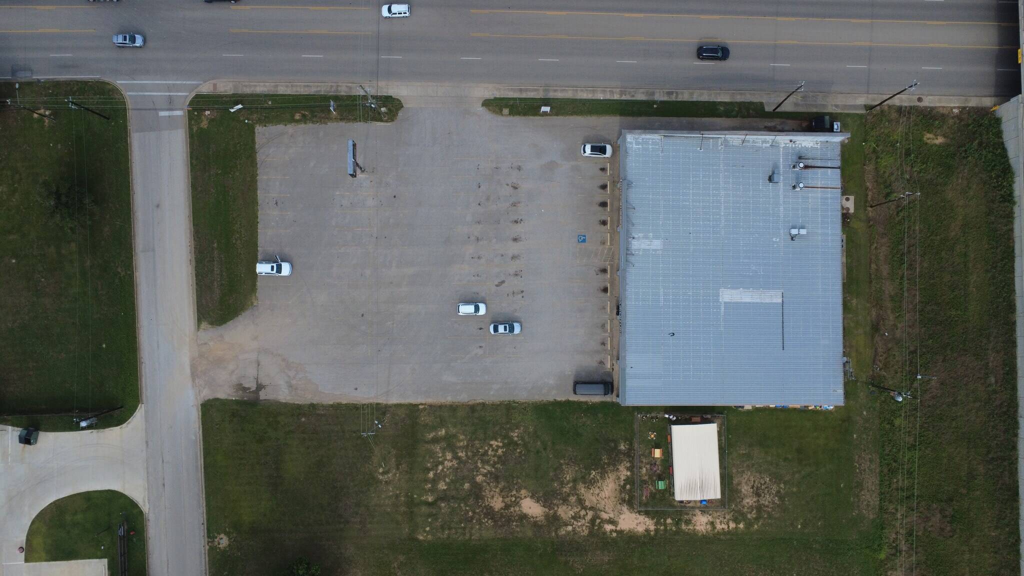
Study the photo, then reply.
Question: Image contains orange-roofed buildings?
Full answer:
No, this view has no orange-roofed building in it.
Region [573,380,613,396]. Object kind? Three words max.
vehicle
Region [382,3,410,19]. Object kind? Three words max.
car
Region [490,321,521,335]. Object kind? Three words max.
car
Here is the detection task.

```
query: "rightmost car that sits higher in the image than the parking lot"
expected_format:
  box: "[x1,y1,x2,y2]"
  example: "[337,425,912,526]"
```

[696,45,729,61]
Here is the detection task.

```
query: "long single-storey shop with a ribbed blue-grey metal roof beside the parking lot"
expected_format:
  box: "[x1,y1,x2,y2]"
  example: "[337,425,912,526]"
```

[614,131,850,407]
